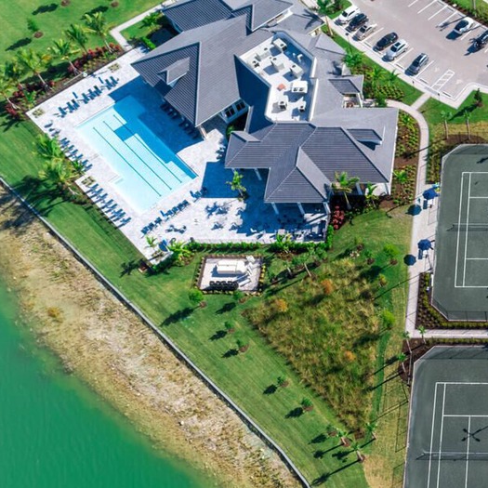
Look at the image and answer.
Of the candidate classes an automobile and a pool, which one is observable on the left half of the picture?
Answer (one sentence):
What appears on the left half of the picture is a pool.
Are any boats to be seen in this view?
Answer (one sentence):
No, I find no boat anywhere in the image.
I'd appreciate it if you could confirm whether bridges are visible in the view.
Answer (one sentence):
No, no bridge can be seen from above.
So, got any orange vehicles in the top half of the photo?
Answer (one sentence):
No, no orange vehicle can be made out in the top half of the photo.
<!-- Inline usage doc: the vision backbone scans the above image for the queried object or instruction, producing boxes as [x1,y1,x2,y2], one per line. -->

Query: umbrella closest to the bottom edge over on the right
[417,239,432,254]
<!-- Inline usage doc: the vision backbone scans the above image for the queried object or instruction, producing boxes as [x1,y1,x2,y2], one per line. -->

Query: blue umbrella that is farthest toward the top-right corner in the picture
[423,189,437,204]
